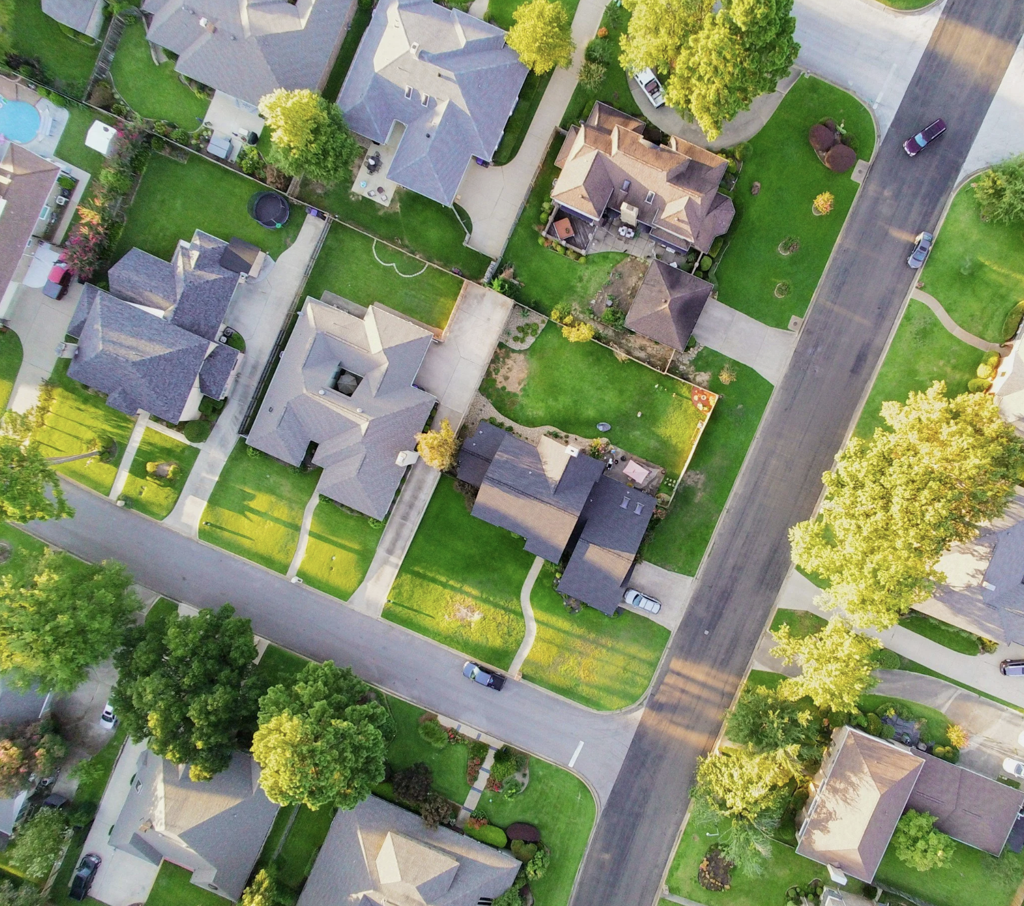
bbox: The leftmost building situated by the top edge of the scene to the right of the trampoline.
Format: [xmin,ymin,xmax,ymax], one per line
[334,0,532,210]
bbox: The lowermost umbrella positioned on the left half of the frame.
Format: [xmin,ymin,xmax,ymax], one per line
[336,372,360,395]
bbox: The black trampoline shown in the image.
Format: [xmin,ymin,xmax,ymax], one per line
[243,182,290,232]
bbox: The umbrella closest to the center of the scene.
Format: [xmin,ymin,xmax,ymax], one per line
[623,458,648,483]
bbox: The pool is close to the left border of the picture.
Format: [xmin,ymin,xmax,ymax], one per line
[0,95,51,145]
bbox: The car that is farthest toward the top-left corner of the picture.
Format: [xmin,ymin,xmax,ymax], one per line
[47,261,76,301]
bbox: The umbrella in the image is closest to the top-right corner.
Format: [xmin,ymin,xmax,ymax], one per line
[553,218,576,241]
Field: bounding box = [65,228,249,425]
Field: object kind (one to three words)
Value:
house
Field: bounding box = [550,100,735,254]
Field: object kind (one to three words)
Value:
house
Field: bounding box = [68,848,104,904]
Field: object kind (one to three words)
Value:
truck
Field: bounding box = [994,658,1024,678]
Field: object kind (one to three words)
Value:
car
